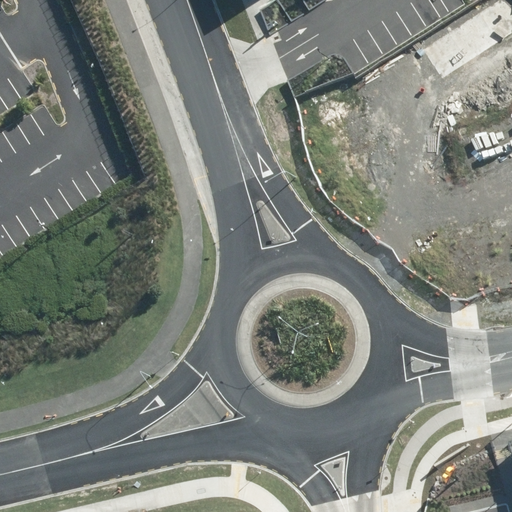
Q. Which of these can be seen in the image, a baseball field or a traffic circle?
traffic circle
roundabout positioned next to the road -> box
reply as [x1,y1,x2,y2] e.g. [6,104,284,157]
[36,164,454,506]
